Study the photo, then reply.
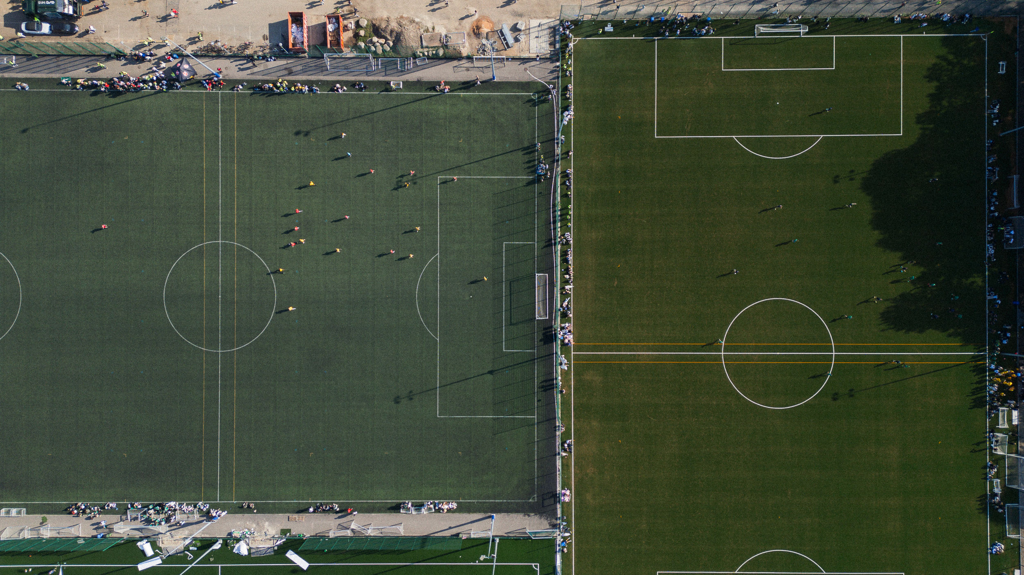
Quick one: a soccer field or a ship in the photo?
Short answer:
soccer field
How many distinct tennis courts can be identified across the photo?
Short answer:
0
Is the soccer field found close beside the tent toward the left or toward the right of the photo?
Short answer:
left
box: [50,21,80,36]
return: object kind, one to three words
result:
car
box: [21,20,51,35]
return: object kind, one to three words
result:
car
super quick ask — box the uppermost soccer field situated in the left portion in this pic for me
[0,78,556,514]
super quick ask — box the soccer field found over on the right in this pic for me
[560,16,1021,575]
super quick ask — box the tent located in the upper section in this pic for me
[170,56,201,87]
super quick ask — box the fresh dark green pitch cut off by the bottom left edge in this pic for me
[0,539,556,575]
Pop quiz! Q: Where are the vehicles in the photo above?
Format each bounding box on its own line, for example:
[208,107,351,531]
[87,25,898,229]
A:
[50,21,80,36]
[21,20,51,35]
[25,0,92,18]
